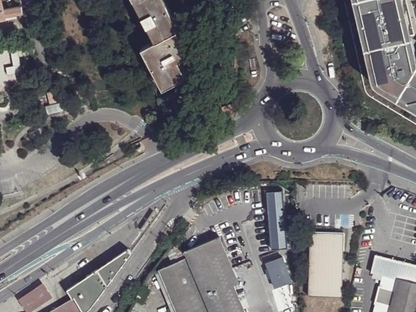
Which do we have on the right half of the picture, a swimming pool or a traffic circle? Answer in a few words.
traffic circle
